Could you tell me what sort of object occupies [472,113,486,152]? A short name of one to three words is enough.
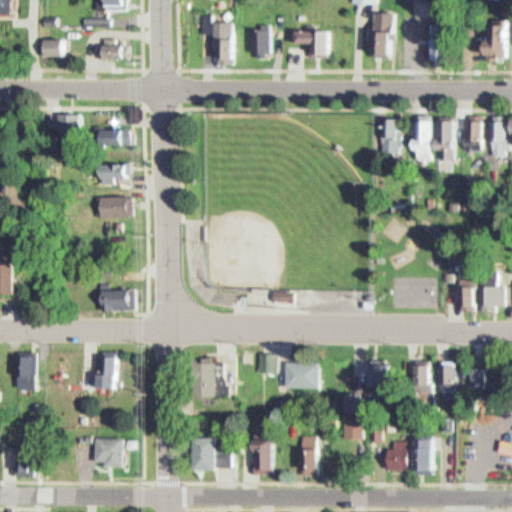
house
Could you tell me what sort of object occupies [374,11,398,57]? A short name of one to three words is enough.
house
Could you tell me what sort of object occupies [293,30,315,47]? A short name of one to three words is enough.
building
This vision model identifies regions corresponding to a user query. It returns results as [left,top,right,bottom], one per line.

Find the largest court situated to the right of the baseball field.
[394,278,438,308]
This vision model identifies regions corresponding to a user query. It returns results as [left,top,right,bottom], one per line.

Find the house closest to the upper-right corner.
[480,23,508,60]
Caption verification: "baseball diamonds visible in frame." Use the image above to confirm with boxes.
[206,113,371,288]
